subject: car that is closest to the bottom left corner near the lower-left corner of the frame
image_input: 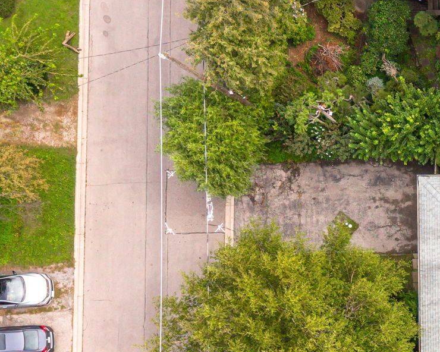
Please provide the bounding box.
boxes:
[0,323,55,352]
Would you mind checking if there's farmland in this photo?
No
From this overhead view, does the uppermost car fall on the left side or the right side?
left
